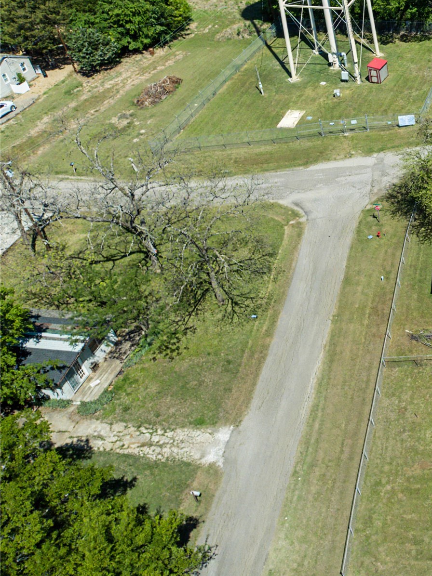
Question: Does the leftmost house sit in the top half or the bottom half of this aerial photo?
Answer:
top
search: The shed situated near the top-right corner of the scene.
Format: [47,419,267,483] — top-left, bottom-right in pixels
[366,58,388,84]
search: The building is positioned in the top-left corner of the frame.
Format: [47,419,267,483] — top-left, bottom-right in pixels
[0,52,38,98]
